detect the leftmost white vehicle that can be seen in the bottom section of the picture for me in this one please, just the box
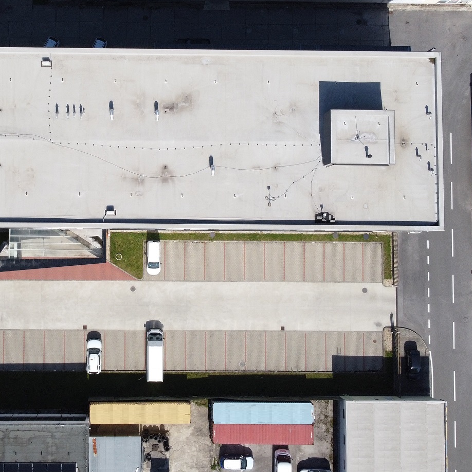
[85,337,102,376]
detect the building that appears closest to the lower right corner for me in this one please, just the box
[335,394,449,472]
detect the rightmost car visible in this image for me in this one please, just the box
[404,347,423,380]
